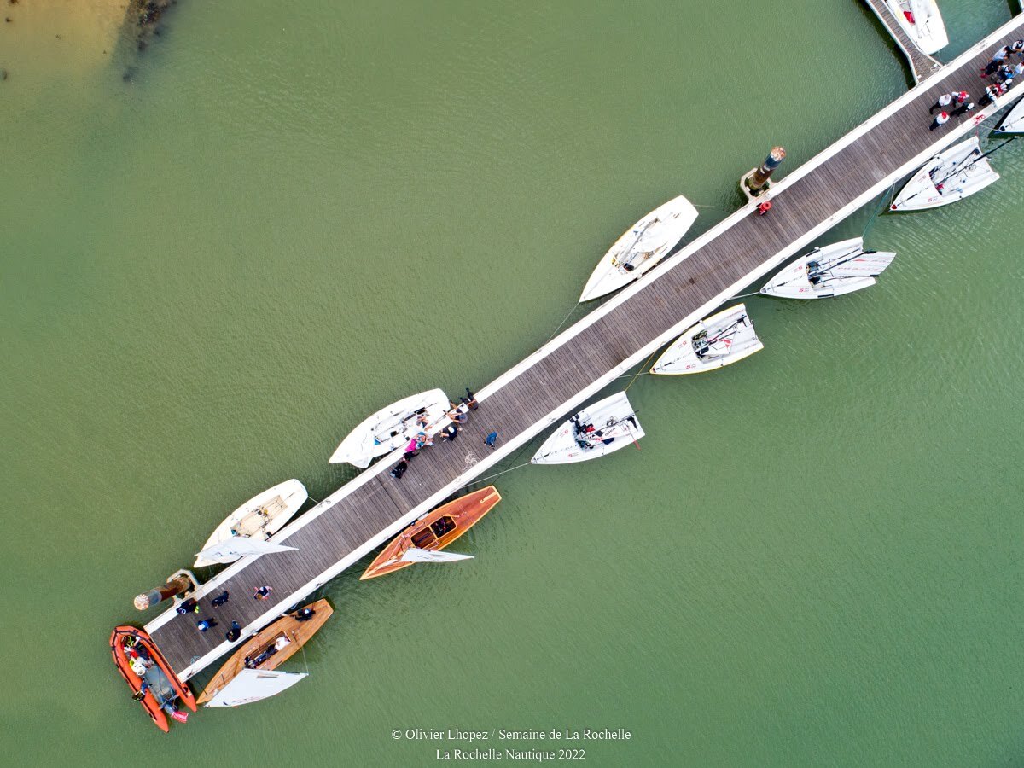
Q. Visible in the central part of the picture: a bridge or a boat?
boat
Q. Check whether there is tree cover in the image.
No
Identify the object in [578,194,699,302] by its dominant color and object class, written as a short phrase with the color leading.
white boat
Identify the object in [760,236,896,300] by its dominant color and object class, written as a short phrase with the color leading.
white boat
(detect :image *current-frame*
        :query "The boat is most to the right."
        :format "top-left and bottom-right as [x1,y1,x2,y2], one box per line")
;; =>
[998,98,1024,136]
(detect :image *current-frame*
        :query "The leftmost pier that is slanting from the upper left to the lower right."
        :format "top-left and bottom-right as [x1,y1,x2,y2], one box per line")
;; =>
[864,0,945,86]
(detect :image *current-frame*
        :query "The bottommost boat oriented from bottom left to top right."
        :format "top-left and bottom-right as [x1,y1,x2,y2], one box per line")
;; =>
[197,598,335,706]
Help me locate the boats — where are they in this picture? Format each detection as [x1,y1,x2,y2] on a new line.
[578,194,699,302]
[194,480,311,568]
[889,135,1016,212]
[998,98,1024,136]
[760,236,896,300]
[359,485,501,580]
[112,626,196,732]
[649,303,764,376]
[197,598,335,706]
[328,389,451,467]
[530,391,645,465]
